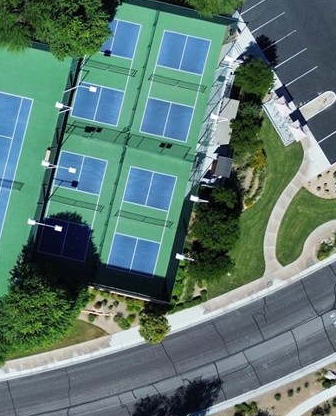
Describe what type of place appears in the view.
sports ground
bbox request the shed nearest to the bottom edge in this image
[207,156,233,178]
